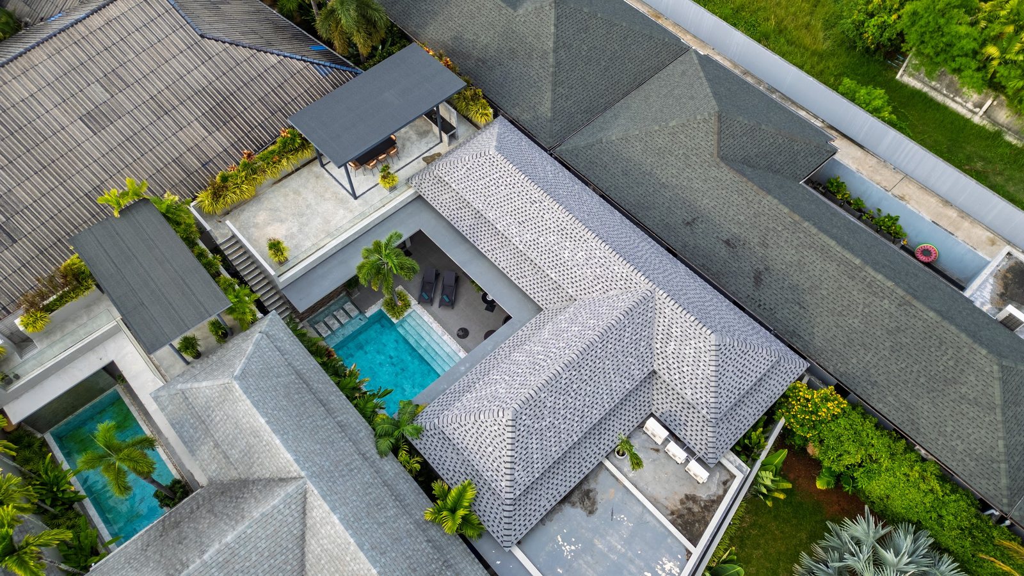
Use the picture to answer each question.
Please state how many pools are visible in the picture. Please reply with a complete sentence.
I count 2 pools.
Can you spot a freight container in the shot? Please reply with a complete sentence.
No, there isn't any freight container down there.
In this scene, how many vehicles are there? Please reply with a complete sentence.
There are no vehicles in this view.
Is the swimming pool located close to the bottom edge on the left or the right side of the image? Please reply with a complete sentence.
The swimming pool located close to the bottom edge appears in the left half of the scene.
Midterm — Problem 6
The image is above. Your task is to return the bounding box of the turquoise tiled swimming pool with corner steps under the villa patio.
[304,271,469,411]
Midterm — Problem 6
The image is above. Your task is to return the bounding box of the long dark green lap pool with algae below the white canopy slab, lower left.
[43,379,201,556]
